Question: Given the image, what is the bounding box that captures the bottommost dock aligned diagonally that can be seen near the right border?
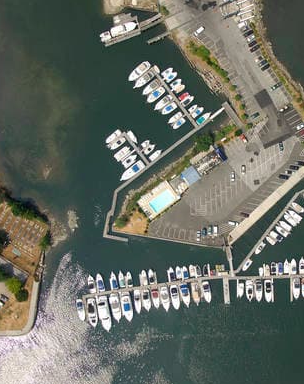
[231,188,304,277]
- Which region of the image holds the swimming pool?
center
